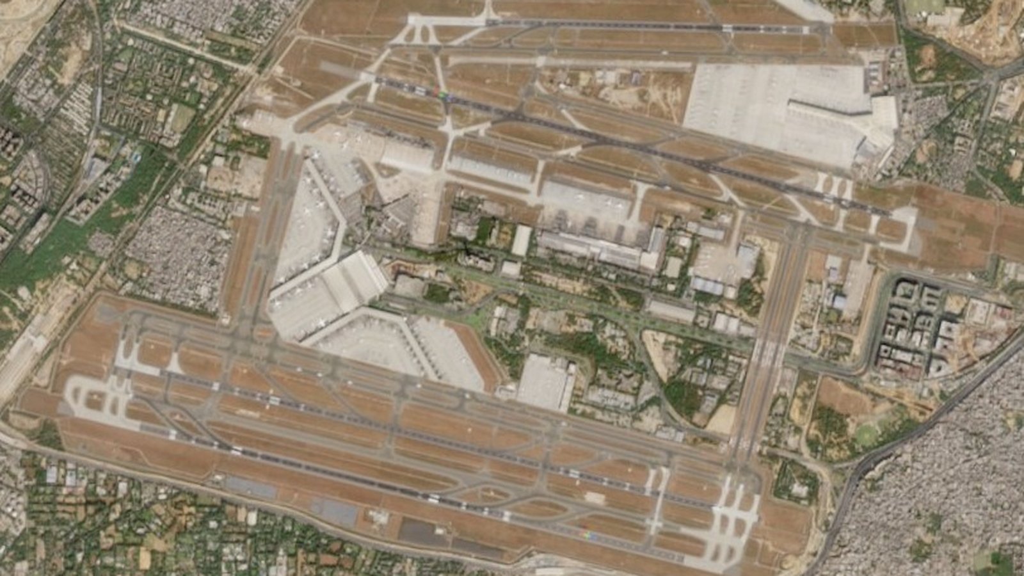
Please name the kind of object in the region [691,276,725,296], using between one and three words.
hangar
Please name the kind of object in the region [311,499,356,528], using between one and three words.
solar array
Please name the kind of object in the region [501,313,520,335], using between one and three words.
building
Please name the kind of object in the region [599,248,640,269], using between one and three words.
building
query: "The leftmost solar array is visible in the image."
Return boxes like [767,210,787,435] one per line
[225,477,276,498]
